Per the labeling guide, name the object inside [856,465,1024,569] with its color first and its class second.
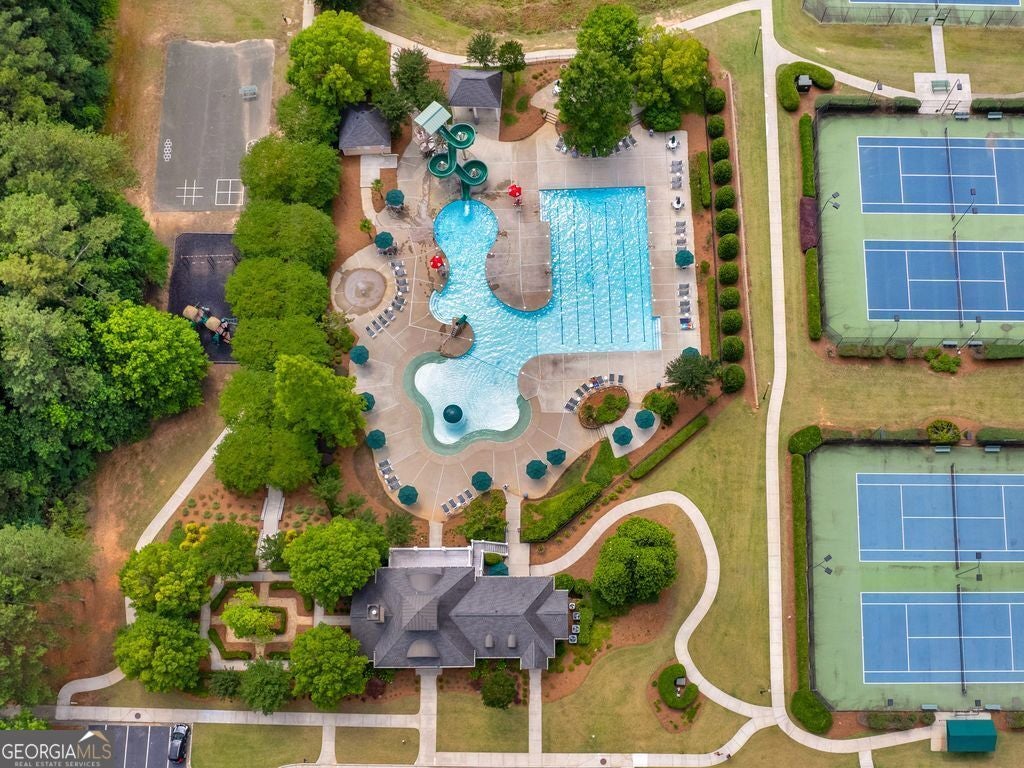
blue tennis court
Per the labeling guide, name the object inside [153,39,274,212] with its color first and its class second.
gray sports court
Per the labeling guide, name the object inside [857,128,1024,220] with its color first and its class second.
blue tennis court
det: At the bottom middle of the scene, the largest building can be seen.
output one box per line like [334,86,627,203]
[352,539,568,670]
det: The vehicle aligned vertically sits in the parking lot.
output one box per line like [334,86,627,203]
[166,722,188,763]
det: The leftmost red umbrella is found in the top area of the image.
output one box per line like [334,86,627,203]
[430,256,444,271]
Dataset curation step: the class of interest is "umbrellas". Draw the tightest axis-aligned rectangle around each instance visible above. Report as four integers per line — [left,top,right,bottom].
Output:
[365,428,386,449]
[508,185,522,199]
[471,470,493,492]
[397,484,418,505]
[526,459,547,480]
[486,557,508,576]
[546,447,566,466]
[611,425,632,446]
[674,249,694,269]
[349,345,370,365]
[430,256,444,271]
[634,409,655,429]
[375,231,394,250]
[356,391,377,411]
[386,187,406,206]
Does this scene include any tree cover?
Yes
